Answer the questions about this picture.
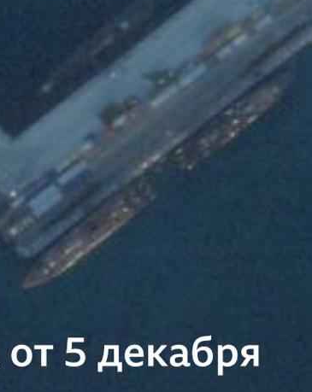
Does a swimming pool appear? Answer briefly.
No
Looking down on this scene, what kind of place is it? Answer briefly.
port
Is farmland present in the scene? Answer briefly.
No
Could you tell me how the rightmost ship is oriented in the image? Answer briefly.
diagonally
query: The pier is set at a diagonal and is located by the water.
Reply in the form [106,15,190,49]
[14,0,311,256]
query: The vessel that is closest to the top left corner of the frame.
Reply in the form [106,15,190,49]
[41,0,155,95]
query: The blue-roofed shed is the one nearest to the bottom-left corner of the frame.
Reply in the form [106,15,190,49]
[29,184,64,216]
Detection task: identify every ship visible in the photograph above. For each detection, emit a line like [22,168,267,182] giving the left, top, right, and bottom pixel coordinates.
[41,0,155,95]
[25,174,163,286]
[171,73,294,173]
